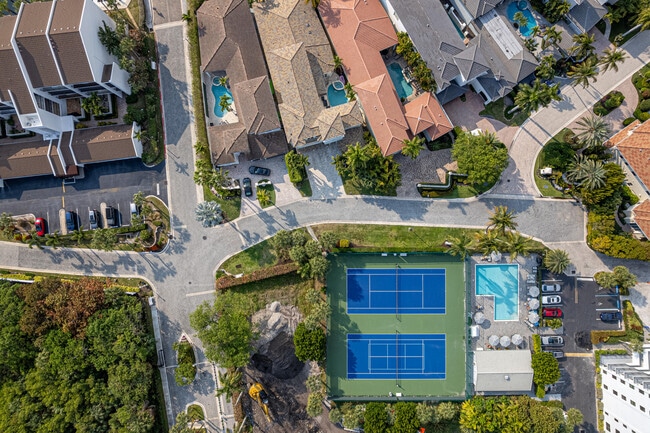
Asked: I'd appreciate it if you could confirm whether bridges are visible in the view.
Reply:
No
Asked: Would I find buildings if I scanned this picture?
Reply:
Yes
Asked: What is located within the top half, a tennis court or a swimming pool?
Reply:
swimming pool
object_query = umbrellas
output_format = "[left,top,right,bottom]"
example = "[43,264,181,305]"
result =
[528,286,540,296]
[488,335,500,345]
[491,250,501,261]
[528,298,539,309]
[474,312,485,323]
[500,335,510,347]
[528,312,540,322]
[512,333,522,345]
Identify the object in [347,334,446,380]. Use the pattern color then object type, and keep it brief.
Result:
blue tennis court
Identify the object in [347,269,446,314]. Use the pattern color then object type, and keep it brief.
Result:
blue tennis court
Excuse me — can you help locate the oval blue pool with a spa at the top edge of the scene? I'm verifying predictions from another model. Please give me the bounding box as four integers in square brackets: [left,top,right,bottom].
[505,0,538,37]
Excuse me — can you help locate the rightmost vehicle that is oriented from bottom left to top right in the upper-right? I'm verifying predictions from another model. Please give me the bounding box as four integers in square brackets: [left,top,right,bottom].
[547,82,564,100]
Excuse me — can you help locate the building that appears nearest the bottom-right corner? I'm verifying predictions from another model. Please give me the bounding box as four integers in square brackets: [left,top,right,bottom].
[602,360,650,433]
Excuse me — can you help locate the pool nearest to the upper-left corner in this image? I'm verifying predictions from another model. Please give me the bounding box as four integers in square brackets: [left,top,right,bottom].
[209,76,234,118]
